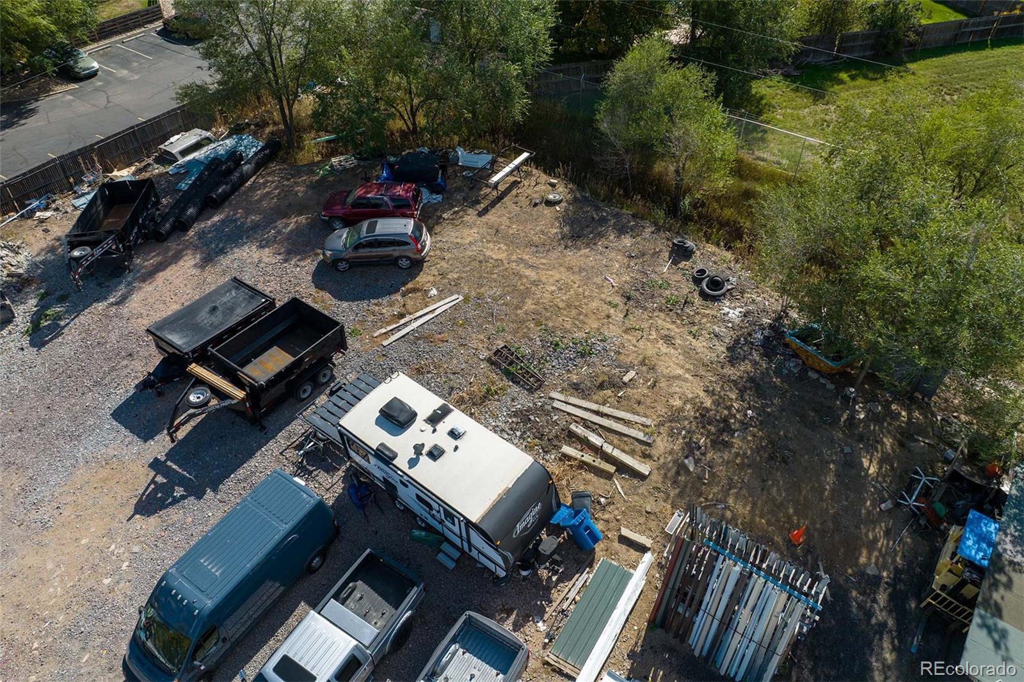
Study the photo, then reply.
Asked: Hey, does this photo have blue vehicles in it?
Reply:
Yes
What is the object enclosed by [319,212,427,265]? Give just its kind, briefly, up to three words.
car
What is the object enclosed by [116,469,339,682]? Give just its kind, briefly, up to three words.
van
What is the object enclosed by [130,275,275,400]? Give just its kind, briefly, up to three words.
trailer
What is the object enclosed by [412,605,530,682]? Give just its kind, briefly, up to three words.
truck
